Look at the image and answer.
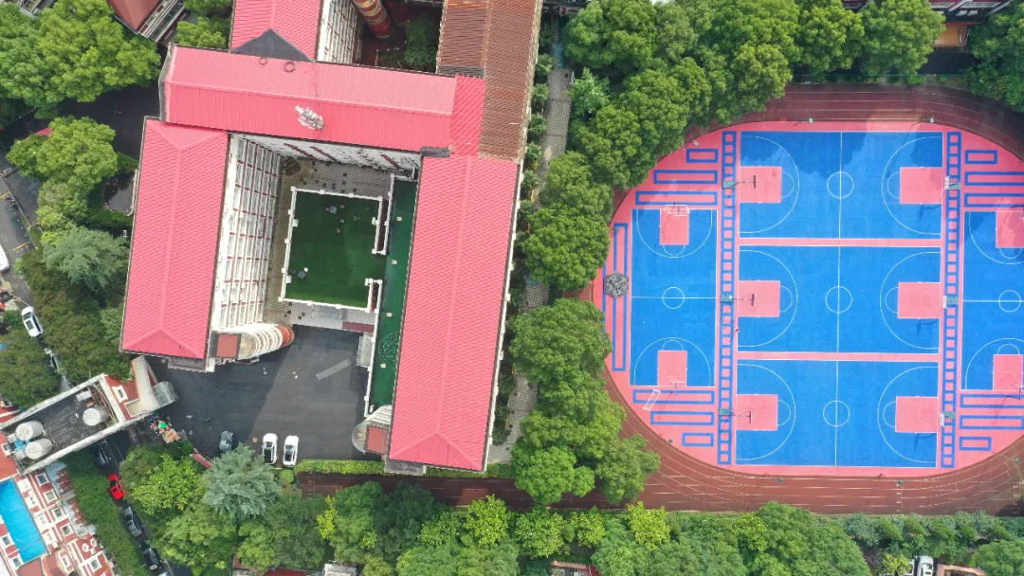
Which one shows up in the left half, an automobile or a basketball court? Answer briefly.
automobile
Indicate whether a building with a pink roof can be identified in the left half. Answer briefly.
Yes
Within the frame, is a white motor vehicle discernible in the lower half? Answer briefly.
Yes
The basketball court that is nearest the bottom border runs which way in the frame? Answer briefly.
horizontally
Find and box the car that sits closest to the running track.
[283,433,300,467]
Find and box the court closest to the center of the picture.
[630,208,718,387]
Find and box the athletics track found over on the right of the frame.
[300,77,1024,518]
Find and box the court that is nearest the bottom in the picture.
[736,359,940,468]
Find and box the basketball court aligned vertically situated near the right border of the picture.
[960,211,1024,391]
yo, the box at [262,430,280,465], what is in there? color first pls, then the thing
white car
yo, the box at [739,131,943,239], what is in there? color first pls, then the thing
blue basketball court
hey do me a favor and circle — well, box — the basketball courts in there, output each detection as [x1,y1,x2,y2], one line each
[736,359,940,468]
[630,208,718,387]
[739,131,943,239]
[960,211,1024,391]
[737,246,941,354]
